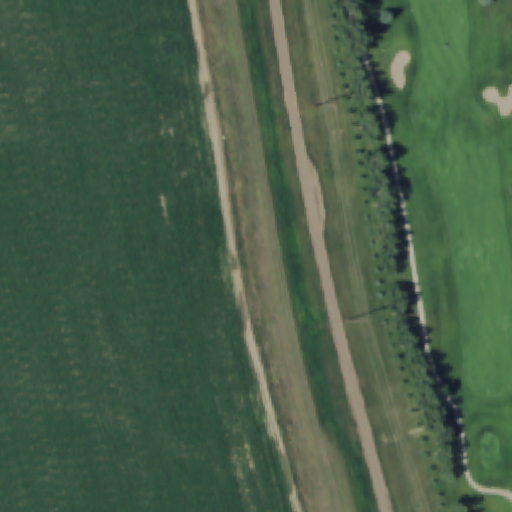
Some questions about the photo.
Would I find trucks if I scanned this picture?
No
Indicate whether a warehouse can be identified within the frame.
No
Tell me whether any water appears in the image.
No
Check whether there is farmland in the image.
Yes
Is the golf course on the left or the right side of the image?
right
